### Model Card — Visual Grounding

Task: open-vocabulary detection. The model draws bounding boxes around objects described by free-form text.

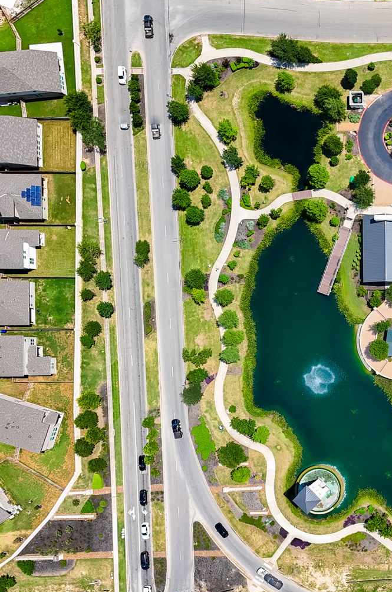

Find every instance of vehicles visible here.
[264,573,283,589]
[144,15,153,37]
[138,488,148,505]
[144,584,152,592]
[120,121,129,132]
[140,521,150,538]
[171,418,182,439]
[254,564,265,575]
[140,551,150,569]
[117,66,127,85]
[214,521,230,538]
[137,454,147,471]
[151,122,160,140]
